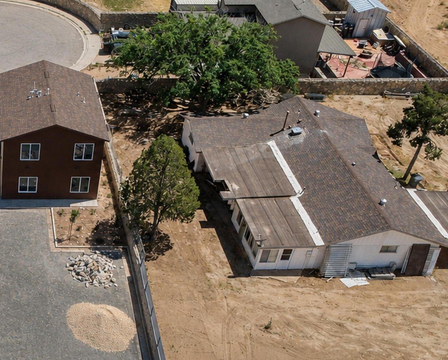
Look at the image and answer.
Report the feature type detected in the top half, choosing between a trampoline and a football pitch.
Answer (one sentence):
What appears in the top half is a trampoline.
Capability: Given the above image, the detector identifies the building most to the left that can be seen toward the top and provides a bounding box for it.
[0,59,109,199]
